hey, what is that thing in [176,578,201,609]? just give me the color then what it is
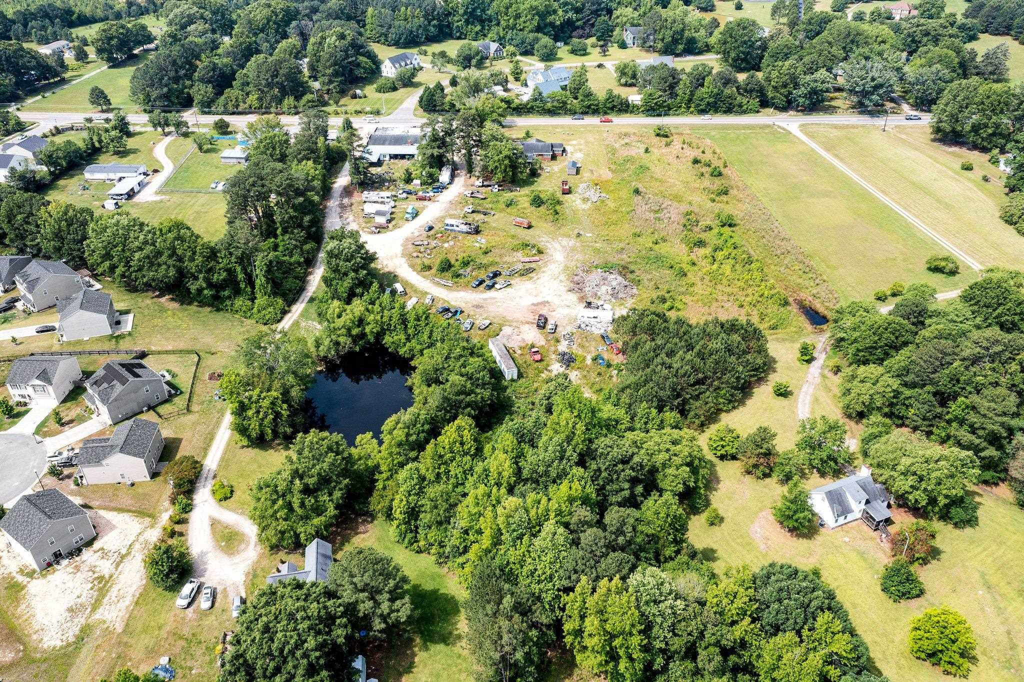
white truck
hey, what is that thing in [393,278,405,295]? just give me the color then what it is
white vehicle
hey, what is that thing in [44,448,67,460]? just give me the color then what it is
white vehicle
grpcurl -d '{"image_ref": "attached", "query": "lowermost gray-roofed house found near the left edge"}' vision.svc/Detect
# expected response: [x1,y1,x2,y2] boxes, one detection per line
[3,491,96,571]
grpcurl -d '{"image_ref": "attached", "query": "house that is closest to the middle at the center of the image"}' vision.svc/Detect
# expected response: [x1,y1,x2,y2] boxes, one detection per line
[578,305,615,328]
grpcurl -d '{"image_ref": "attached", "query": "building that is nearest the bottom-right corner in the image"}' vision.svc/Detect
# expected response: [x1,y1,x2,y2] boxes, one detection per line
[803,451,903,532]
